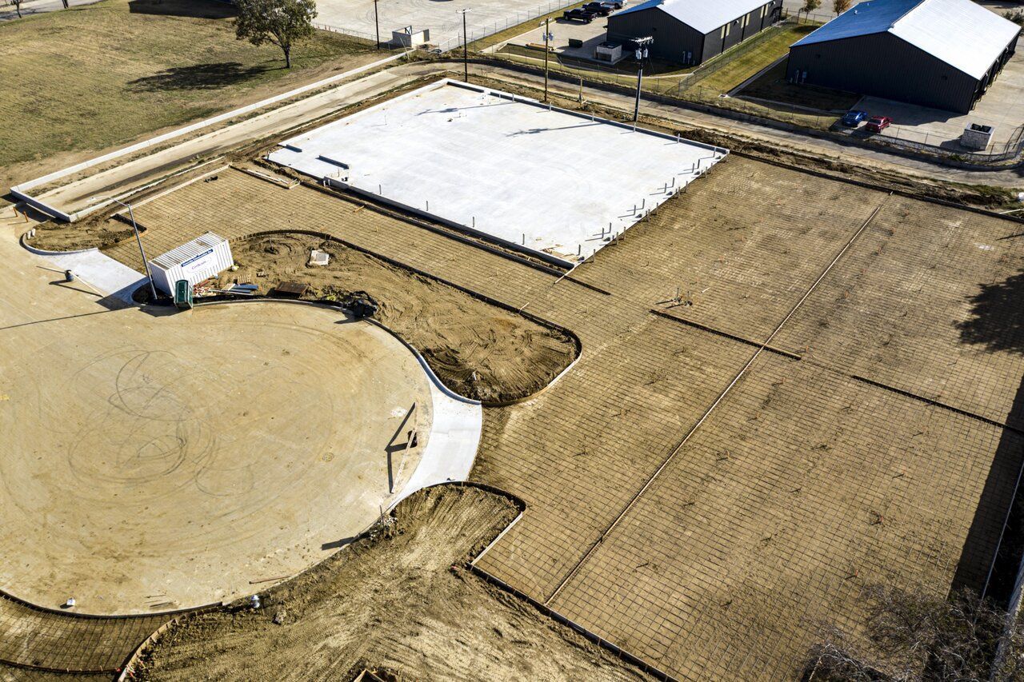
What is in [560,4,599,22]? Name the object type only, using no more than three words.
vehicle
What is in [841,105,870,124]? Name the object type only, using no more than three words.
car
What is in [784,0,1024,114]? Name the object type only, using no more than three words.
building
